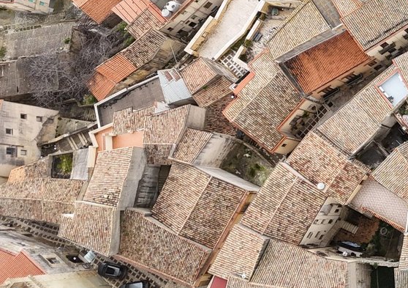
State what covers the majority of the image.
buildings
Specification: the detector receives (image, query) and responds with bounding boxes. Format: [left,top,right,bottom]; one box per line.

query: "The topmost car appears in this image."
[98,262,129,278]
